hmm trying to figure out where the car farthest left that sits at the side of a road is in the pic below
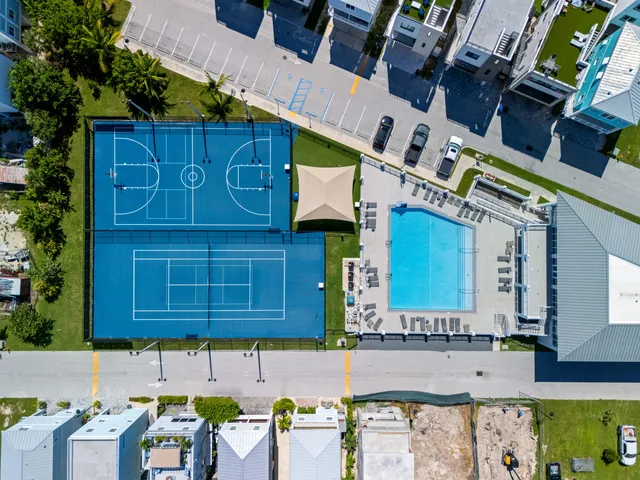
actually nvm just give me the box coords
[372,118,394,151]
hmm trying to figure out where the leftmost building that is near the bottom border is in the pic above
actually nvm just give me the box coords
[1,400,81,480]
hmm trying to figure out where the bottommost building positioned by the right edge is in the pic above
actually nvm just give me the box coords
[537,190,640,362]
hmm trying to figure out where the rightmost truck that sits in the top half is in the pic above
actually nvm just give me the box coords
[437,138,462,179]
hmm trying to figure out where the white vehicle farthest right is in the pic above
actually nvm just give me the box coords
[617,425,638,464]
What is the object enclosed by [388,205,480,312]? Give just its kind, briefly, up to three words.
swimming pool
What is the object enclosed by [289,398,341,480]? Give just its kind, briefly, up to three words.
house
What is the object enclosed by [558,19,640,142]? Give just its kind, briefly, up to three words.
house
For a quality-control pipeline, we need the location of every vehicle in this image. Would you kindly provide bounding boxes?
[544,462,562,480]
[437,138,462,179]
[372,118,394,151]
[502,449,521,480]
[617,425,638,464]
[404,126,429,166]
